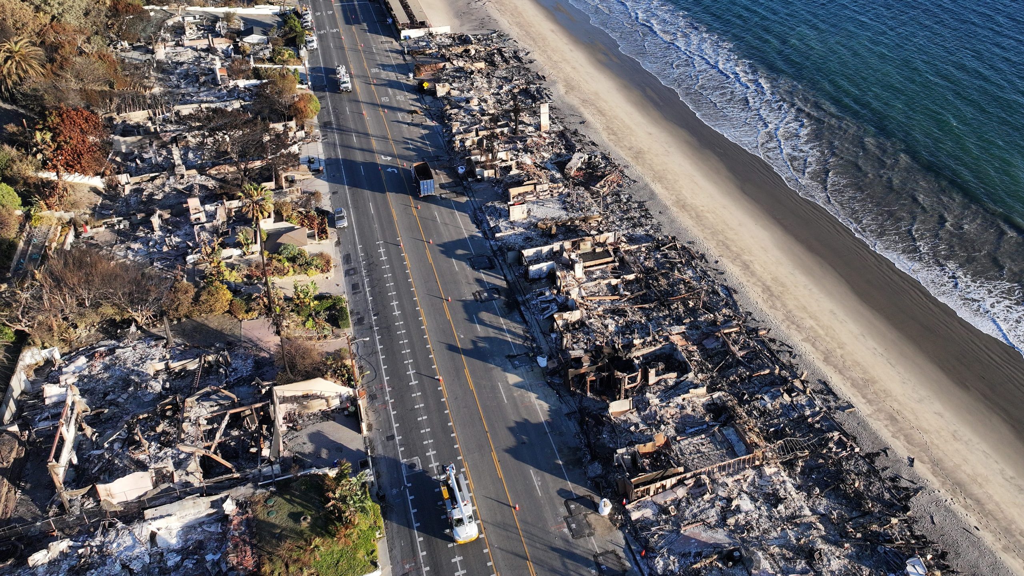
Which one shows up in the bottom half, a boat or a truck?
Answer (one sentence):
You can see a truck in the bottom half.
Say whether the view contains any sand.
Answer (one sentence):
Yes, some sand is visible.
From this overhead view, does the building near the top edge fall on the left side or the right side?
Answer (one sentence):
You can find the building near the top edge on the left side of the picture.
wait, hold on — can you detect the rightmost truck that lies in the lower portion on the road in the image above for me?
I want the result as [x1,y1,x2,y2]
[430,447,475,541]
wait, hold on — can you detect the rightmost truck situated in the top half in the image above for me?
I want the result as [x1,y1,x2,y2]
[408,157,434,195]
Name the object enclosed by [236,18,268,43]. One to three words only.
building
